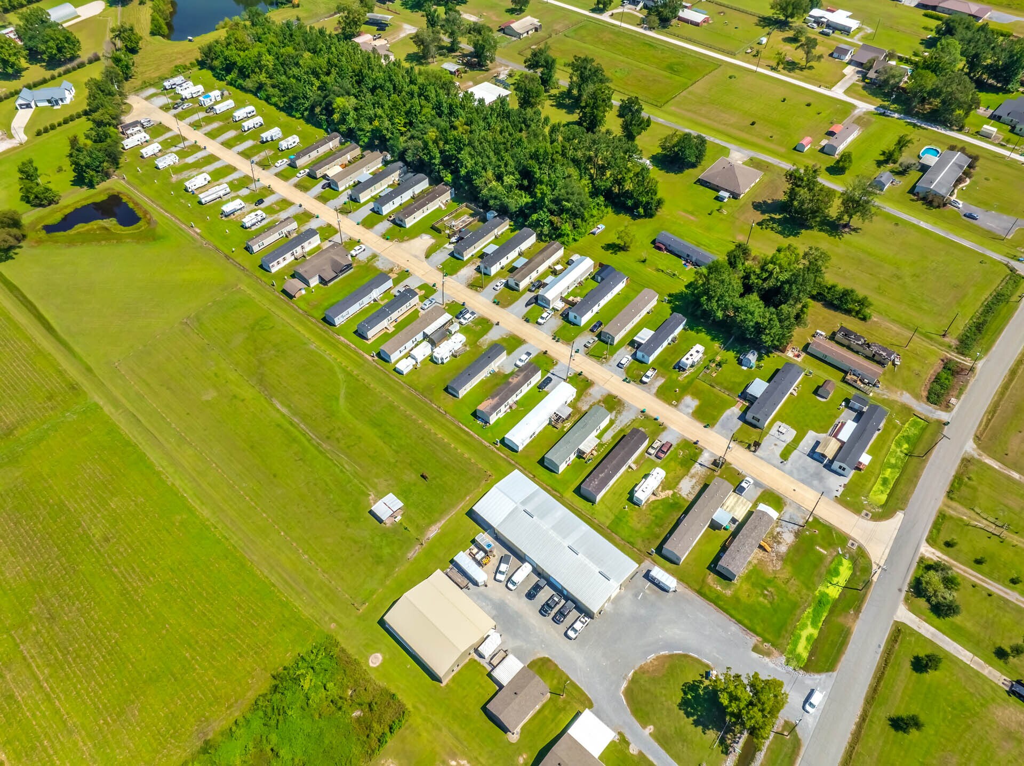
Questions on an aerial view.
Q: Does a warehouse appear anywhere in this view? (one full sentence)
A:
Yes, the photo shows a warehouse.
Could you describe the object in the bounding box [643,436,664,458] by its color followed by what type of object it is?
white truck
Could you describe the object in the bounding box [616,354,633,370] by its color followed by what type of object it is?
white car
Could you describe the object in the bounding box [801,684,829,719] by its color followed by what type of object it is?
white van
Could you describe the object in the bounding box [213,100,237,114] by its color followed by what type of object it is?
white vehicle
